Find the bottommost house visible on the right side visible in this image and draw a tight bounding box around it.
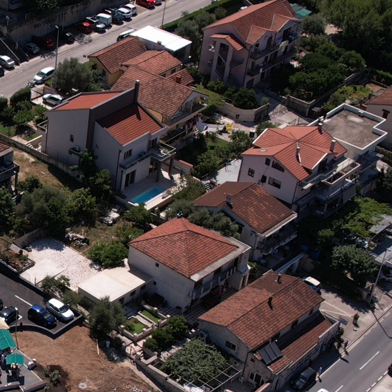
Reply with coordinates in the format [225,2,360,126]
[200,270,341,392]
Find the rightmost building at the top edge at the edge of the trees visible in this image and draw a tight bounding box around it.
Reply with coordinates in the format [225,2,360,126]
[198,0,302,86]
